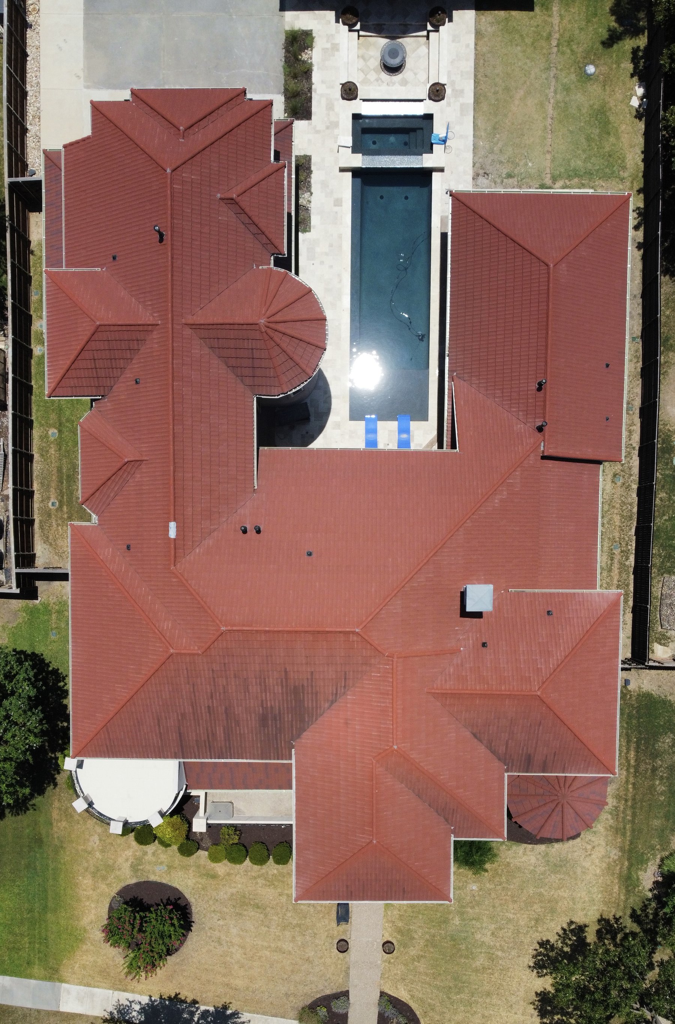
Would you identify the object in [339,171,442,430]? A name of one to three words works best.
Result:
swimming pool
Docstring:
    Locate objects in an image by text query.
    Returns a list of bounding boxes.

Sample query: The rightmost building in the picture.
[40,86,634,905]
